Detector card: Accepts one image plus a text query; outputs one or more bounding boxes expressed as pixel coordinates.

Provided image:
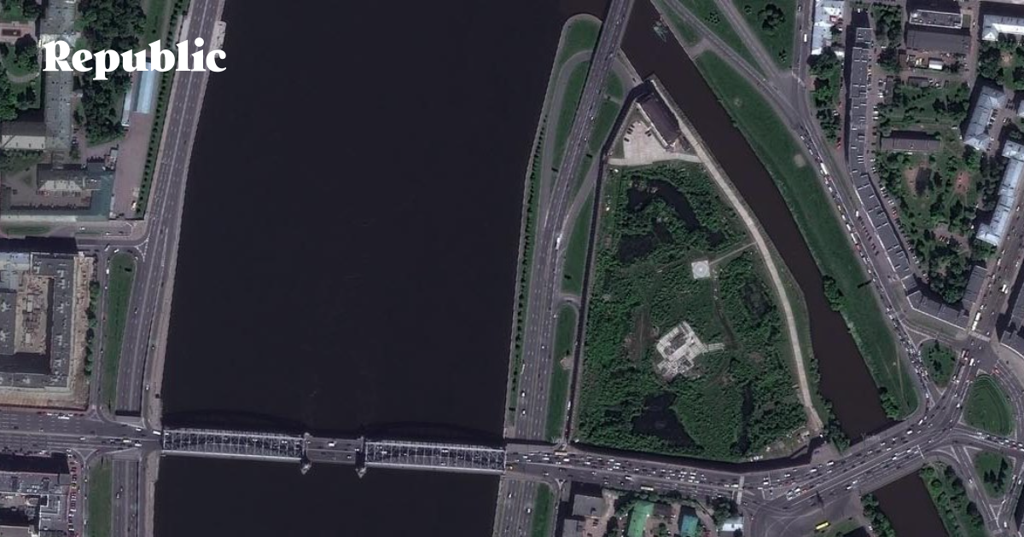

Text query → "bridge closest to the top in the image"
[555,0,637,177]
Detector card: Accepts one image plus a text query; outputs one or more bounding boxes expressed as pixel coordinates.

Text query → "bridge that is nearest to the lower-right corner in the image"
[841,404,930,494]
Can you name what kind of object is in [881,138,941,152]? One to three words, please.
building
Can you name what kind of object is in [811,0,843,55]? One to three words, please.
house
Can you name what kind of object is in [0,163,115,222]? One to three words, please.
building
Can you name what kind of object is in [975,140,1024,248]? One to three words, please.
house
